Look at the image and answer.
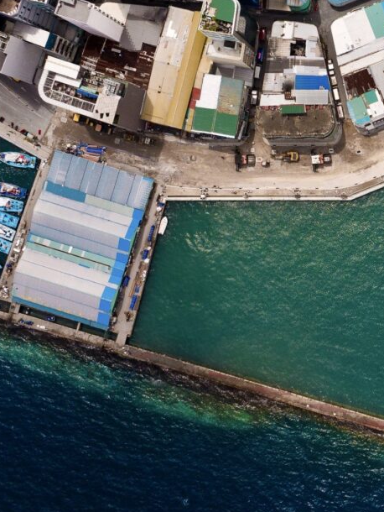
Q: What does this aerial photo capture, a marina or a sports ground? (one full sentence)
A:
This looks like a marina.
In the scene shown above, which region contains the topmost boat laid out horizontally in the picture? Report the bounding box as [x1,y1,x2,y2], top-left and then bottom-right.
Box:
[0,151,40,170]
